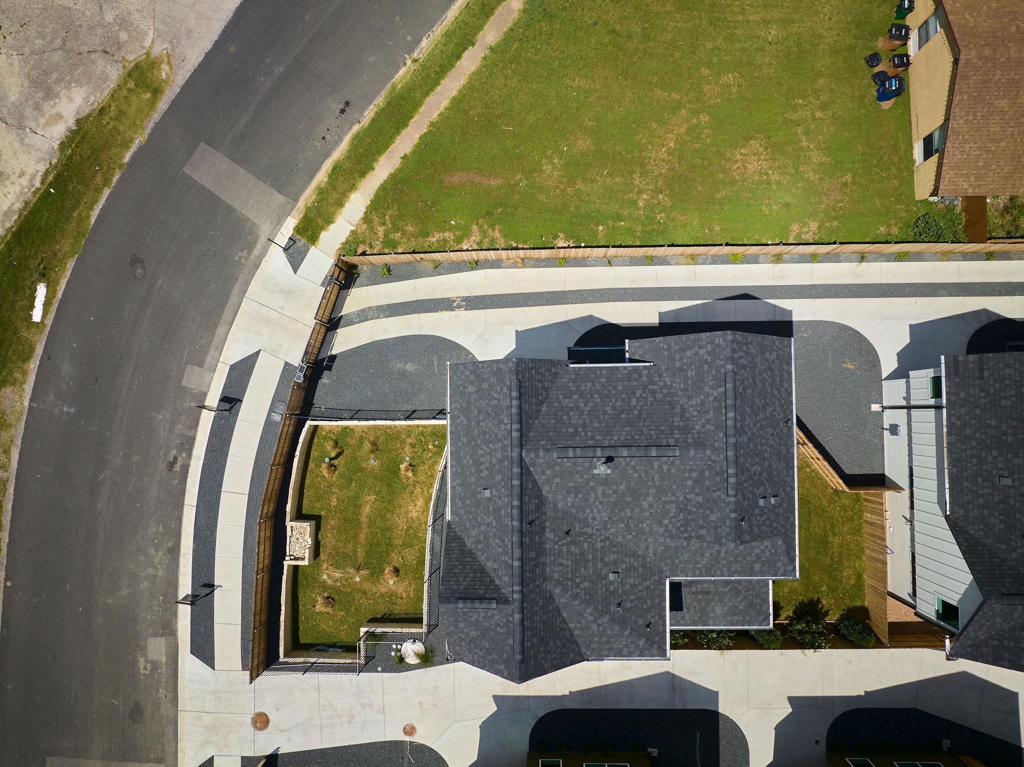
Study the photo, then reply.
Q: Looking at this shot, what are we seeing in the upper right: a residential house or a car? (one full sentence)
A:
Visible in the upper right is a residential house.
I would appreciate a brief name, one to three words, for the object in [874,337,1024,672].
house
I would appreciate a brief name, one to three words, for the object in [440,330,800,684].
house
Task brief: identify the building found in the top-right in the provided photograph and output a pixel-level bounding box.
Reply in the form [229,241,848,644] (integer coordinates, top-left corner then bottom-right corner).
[906,0,1024,200]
